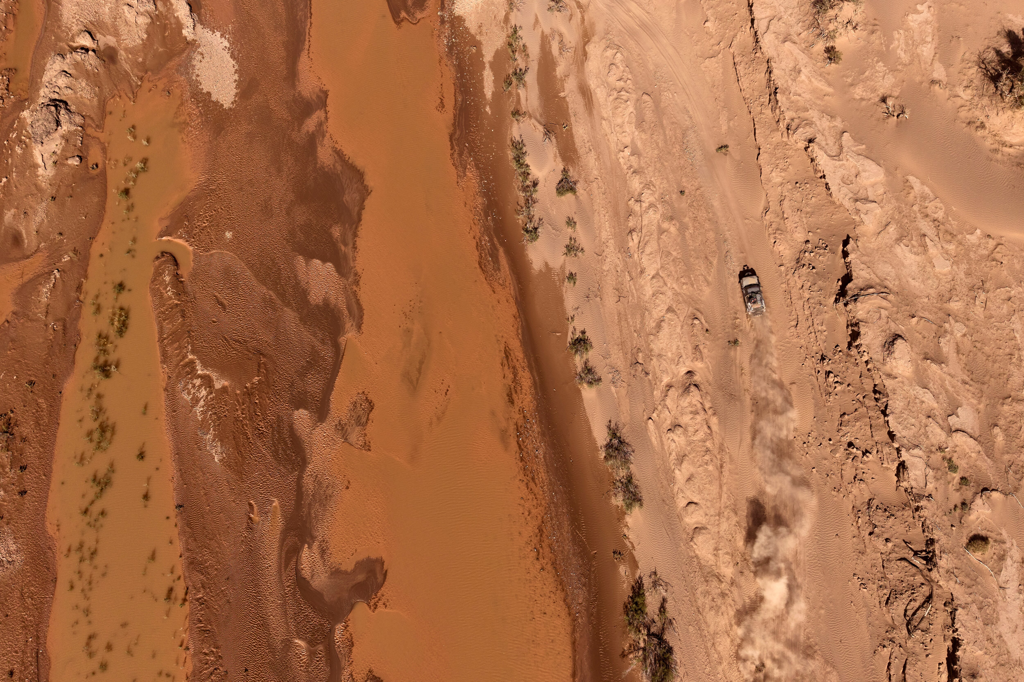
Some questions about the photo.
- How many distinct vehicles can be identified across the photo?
1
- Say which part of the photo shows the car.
right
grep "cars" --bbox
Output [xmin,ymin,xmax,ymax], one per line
[738,274,765,318]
